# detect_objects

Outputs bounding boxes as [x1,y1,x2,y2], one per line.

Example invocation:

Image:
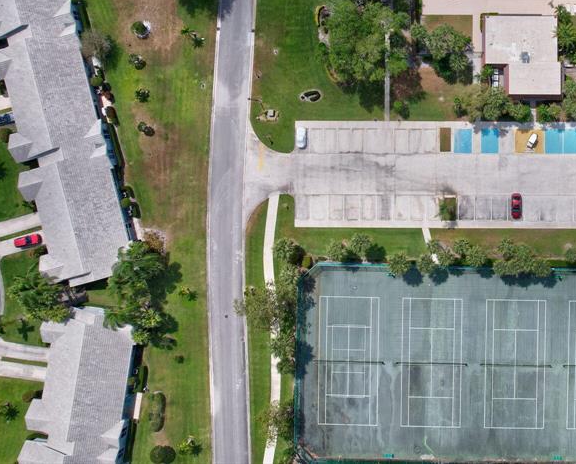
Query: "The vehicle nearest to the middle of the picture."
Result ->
[294,127,306,148]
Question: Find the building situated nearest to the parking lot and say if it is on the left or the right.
right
